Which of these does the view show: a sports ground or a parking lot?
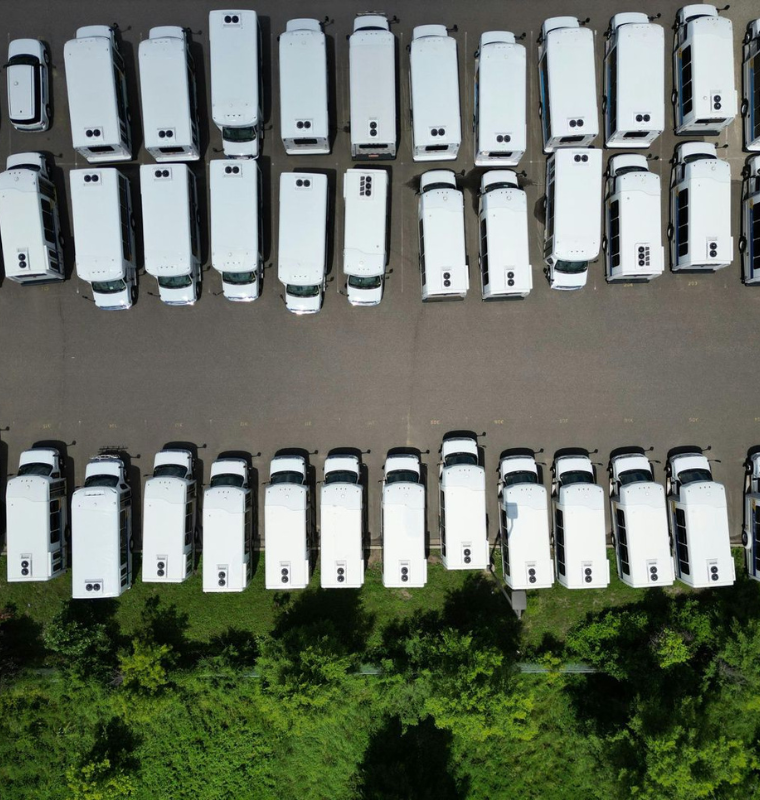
parking lot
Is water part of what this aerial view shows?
No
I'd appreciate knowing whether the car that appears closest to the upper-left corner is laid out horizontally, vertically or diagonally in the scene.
vertically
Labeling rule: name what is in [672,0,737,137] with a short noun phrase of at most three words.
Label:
vehicle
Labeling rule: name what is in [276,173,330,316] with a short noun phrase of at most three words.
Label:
vehicle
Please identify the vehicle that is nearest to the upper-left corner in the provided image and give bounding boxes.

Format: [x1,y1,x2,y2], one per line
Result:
[2,40,53,133]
